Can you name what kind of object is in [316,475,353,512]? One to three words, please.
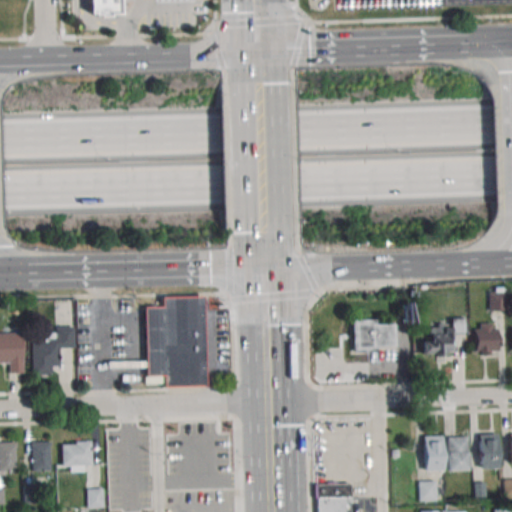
building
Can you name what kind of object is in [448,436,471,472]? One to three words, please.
house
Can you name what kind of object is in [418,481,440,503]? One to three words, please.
building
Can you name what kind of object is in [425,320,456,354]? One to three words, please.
house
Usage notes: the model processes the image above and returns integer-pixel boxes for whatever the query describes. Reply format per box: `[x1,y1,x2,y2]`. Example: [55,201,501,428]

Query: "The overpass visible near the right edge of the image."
[448,62,512,249]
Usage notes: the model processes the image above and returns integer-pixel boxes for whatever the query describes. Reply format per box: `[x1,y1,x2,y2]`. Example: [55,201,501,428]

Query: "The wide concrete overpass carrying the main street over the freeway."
[221,68,303,247]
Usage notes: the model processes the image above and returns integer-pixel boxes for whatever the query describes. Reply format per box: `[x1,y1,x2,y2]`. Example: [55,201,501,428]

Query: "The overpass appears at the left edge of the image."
[0,74,62,247]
